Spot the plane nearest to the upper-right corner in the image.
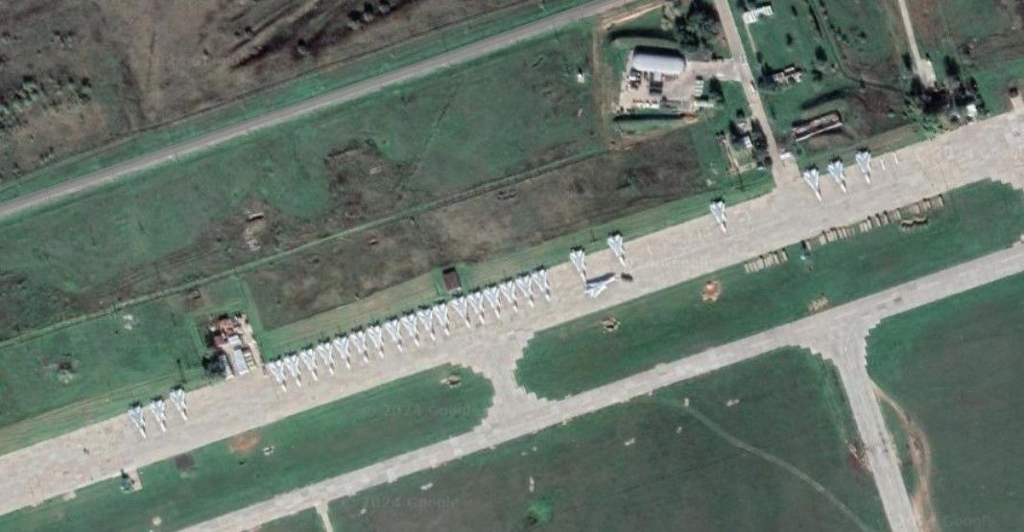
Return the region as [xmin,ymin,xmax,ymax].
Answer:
[856,152,871,184]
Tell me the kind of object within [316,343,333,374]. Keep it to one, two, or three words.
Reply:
airplane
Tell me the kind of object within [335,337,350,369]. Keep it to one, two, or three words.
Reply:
airplane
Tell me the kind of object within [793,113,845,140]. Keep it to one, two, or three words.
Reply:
shed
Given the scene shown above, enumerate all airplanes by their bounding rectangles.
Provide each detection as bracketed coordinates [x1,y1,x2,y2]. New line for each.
[129,406,146,439]
[517,275,533,307]
[586,278,616,299]
[350,331,367,363]
[501,281,517,313]
[452,297,470,328]
[285,355,300,387]
[608,235,626,268]
[316,343,333,374]
[402,314,418,346]
[368,326,383,357]
[711,201,726,232]
[856,152,871,184]
[335,337,350,369]
[385,320,401,351]
[485,287,500,318]
[533,270,550,303]
[419,309,435,341]
[829,161,845,193]
[269,360,285,391]
[468,292,484,324]
[172,389,187,422]
[572,251,587,283]
[300,349,317,380]
[150,400,165,431]
[805,169,821,202]
[433,305,449,338]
